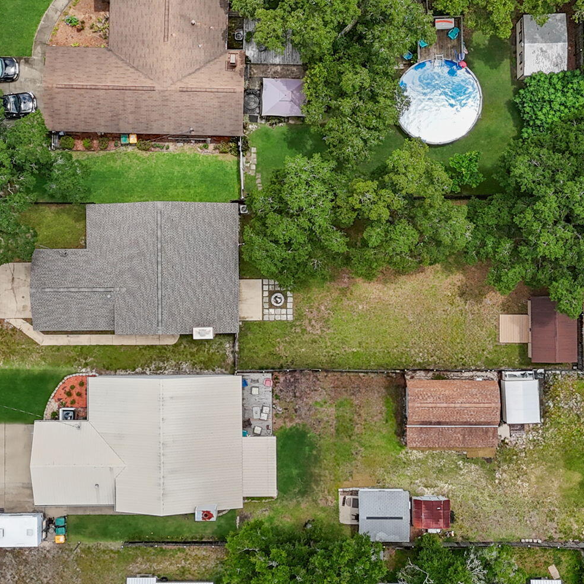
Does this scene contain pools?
Yes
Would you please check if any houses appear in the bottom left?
Yes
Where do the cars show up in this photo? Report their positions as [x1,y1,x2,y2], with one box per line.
[0,90,37,116]
[0,58,19,82]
